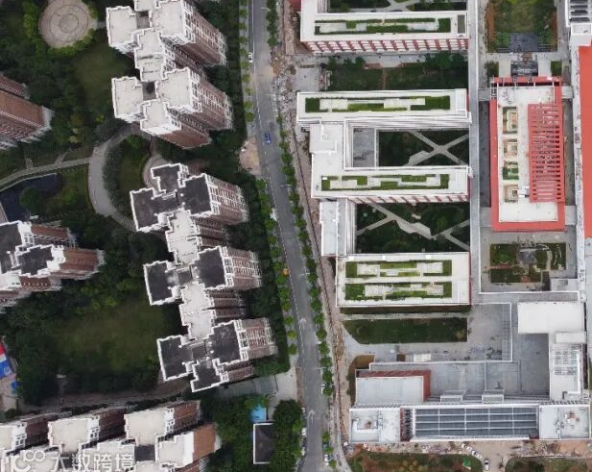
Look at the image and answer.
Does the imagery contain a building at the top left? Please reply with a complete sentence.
Yes, the scene does show a building at the top left.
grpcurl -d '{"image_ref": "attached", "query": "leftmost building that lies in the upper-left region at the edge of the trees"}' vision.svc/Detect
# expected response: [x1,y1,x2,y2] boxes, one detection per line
[0,71,50,155]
